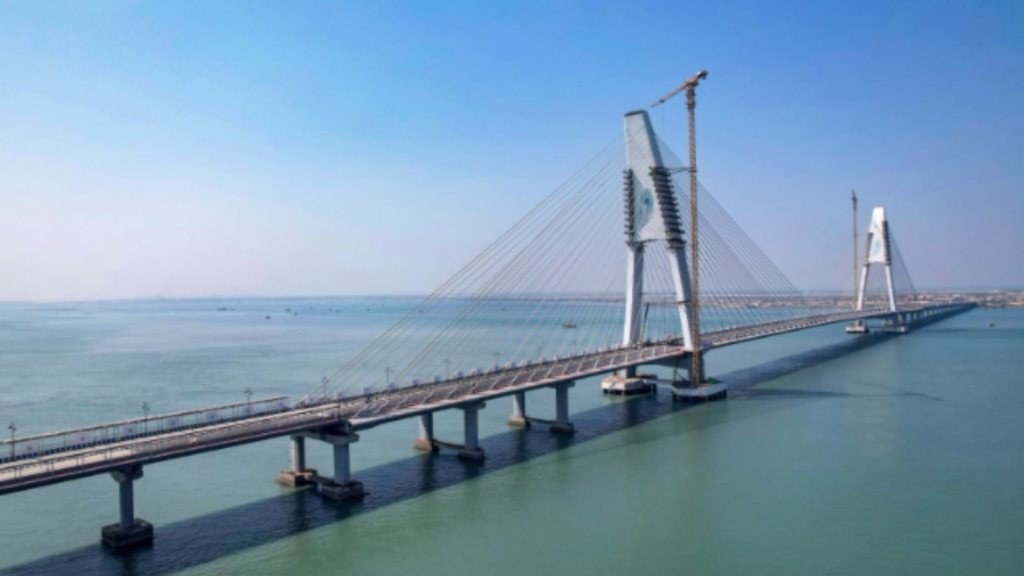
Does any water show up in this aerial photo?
Yes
